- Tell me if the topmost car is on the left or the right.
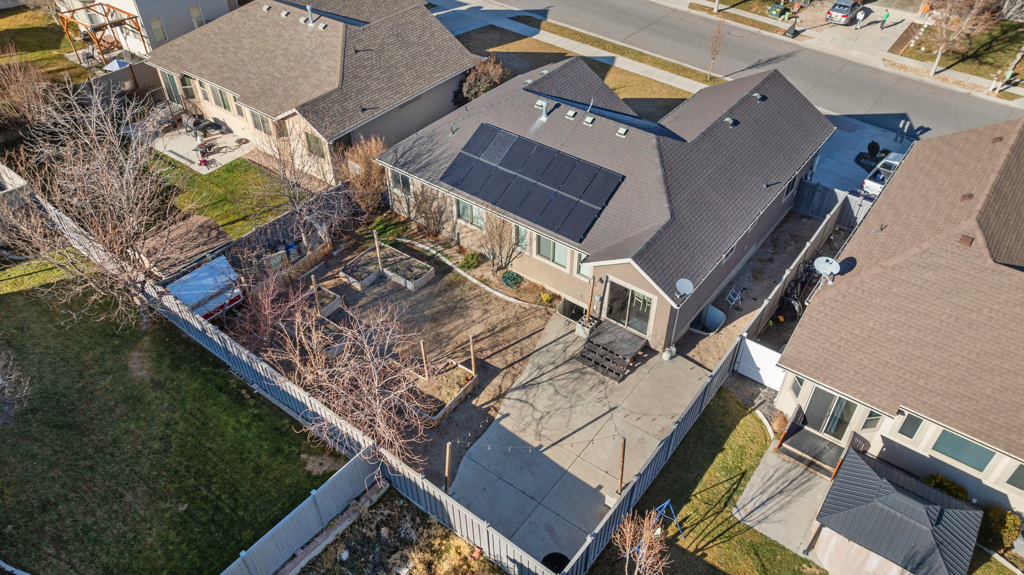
right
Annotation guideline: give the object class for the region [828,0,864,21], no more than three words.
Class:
car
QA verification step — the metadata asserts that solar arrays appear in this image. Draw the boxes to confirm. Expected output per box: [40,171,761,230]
[438,120,622,239]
